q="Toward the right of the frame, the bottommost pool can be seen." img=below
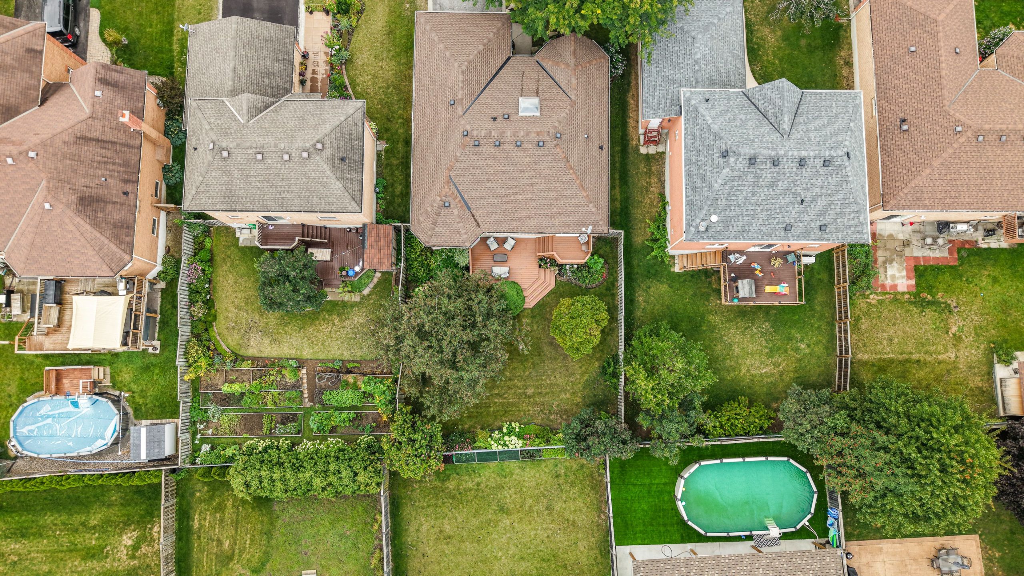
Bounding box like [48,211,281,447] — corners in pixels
[673,456,817,535]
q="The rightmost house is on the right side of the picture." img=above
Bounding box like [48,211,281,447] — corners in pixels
[848,0,1024,223]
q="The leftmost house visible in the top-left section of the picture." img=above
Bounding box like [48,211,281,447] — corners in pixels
[0,17,178,279]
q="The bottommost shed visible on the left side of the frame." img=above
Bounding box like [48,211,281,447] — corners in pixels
[131,423,187,460]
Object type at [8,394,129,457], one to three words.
swimming pool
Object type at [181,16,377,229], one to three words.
house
